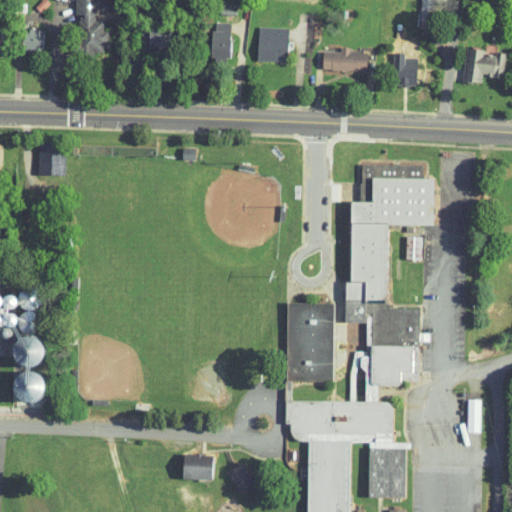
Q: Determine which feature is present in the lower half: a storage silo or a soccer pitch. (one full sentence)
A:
There is a storage silo in the lower half.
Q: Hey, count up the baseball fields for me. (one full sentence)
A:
I count 2 baseball fields.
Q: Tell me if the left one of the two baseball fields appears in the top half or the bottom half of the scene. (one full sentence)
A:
The left one of the two baseball fields sits in the bottom half of the picture.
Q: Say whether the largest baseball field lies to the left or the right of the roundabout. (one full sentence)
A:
From the viewer's perspective, the largest baseball field falls to the left of the roundabout.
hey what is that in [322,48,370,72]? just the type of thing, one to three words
house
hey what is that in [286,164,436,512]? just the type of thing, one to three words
building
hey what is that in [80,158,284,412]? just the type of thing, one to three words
baseball field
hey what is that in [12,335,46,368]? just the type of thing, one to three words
silo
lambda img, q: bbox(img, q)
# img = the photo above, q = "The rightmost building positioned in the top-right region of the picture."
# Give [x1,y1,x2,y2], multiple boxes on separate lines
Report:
[464,44,506,83]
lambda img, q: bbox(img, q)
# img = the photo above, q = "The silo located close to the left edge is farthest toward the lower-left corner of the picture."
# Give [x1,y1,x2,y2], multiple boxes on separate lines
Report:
[12,371,45,404]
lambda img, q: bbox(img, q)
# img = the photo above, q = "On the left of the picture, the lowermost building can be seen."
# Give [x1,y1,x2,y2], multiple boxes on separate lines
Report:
[184,455,216,482]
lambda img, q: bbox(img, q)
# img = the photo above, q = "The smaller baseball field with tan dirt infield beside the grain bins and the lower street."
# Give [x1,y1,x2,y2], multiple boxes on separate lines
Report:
[79,334,144,400]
